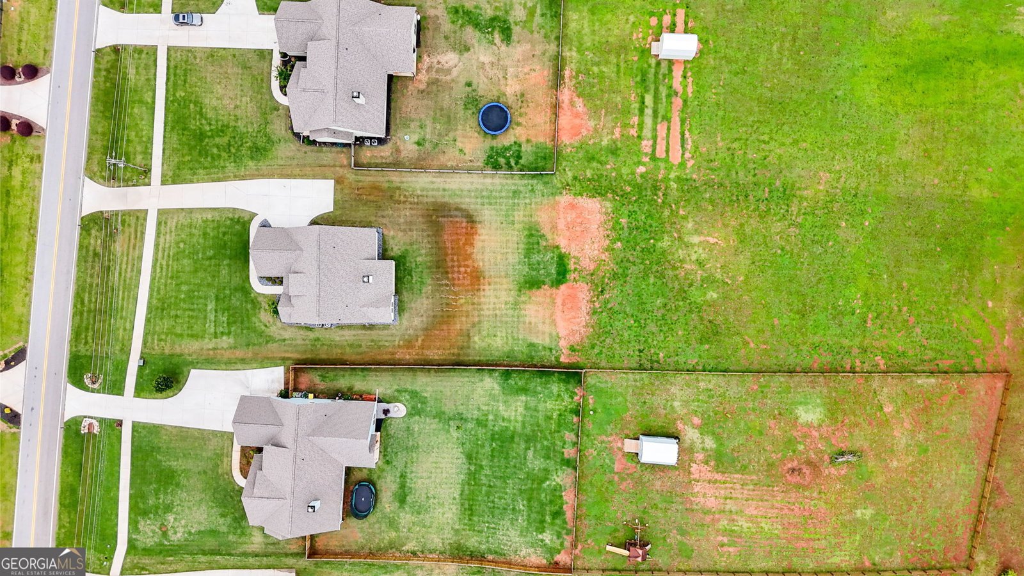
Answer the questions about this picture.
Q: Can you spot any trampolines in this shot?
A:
Yes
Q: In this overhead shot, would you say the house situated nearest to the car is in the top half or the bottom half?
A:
top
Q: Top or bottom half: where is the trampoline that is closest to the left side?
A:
bottom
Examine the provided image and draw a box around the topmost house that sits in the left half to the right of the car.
[274,0,418,144]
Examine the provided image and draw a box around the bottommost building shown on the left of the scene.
[232,395,389,543]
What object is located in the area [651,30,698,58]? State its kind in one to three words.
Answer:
shed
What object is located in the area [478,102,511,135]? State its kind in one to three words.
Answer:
trampoline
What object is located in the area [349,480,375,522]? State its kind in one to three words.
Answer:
trampoline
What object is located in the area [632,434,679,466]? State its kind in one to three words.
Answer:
shed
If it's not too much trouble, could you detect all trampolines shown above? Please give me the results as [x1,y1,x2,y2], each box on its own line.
[349,480,375,522]
[478,102,511,135]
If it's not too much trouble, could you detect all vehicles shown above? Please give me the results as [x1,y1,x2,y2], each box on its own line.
[171,12,204,28]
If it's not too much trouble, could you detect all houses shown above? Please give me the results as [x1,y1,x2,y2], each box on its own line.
[274,0,418,144]
[232,395,389,543]
[251,226,396,323]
